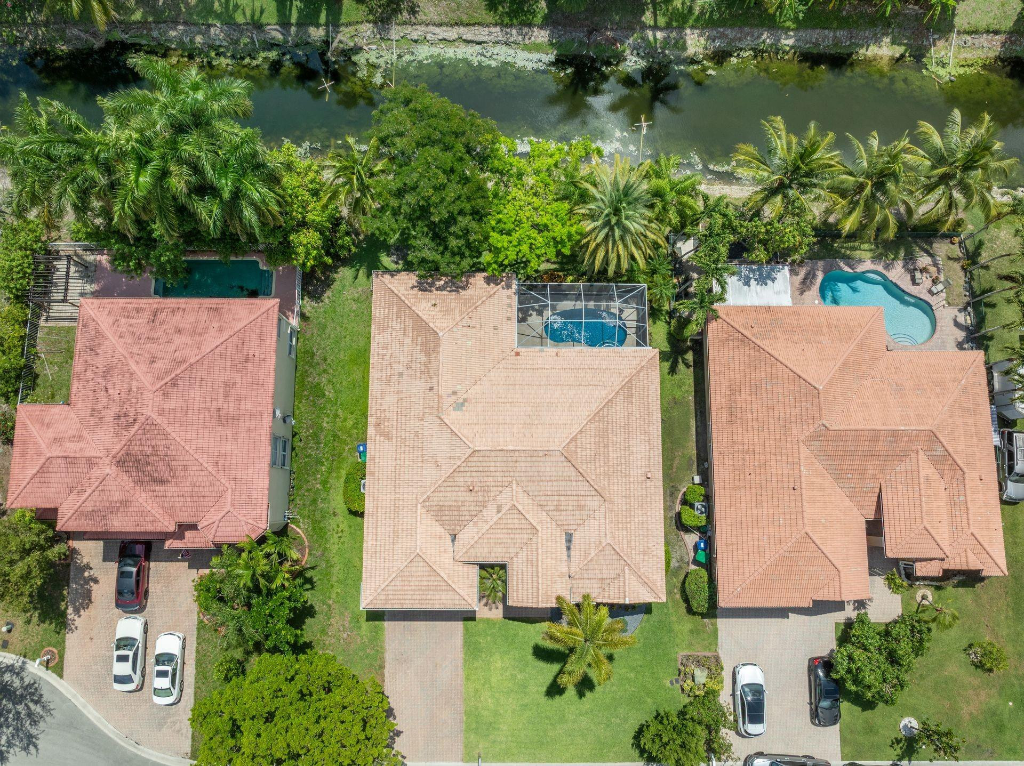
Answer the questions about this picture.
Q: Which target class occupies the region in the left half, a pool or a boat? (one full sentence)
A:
It is a pool that can be seen in the left half.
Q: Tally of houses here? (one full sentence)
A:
The photo contains 3 houses.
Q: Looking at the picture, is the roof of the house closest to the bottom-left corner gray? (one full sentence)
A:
No, the roof of the house closest to the bottom-left corner is pink.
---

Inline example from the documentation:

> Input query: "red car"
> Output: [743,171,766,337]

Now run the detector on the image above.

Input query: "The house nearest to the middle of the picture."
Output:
[360,270,668,612]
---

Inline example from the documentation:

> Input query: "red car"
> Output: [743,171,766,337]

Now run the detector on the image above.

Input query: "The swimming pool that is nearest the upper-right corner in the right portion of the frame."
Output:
[817,266,939,348]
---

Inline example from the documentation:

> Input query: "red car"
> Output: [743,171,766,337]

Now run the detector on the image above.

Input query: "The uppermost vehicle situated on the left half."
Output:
[113,540,153,614]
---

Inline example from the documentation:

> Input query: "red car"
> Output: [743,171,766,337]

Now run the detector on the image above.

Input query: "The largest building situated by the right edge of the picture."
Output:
[706,305,1010,609]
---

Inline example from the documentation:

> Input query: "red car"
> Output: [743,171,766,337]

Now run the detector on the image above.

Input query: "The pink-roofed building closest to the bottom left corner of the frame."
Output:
[4,296,297,549]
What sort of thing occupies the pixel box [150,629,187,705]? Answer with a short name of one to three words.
car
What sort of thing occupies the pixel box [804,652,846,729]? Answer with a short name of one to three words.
car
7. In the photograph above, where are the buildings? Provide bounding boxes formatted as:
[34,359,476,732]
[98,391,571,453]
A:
[4,296,297,549]
[706,305,1010,609]
[360,270,668,612]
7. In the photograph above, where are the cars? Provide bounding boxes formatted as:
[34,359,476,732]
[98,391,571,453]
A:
[729,660,768,741]
[996,428,1024,502]
[804,652,846,729]
[110,613,150,693]
[113,540,153,614]
[150,629,187,705]
[741,750,828,766]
